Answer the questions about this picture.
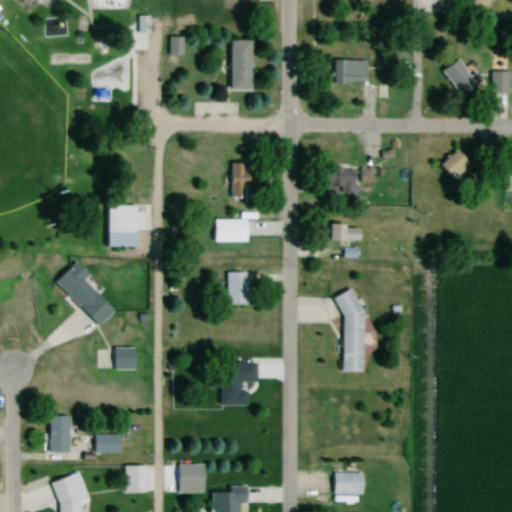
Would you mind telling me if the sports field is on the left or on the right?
left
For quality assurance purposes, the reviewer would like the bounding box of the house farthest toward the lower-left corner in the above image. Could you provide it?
[50,474,88,512]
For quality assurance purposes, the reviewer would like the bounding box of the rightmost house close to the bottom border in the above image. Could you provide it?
[335,472,366,505]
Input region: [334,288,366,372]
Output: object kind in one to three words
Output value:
house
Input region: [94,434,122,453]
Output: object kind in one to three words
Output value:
building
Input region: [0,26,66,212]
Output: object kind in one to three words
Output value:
sports field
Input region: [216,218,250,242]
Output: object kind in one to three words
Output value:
barn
